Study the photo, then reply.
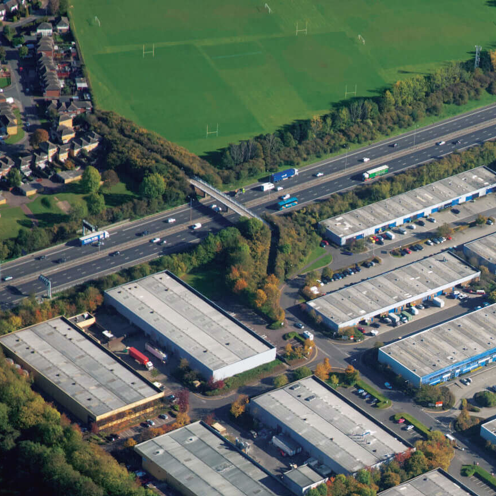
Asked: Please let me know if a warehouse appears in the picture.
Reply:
Yes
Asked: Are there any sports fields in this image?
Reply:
Yes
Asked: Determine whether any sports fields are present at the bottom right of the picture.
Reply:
No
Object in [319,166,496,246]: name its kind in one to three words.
building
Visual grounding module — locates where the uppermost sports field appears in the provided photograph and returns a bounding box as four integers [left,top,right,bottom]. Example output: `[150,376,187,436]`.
[89,0,282,48]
